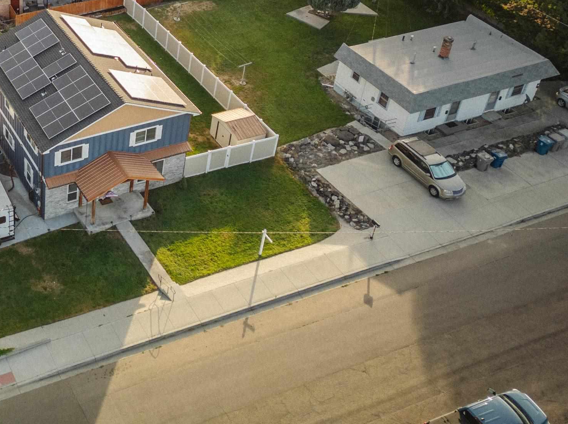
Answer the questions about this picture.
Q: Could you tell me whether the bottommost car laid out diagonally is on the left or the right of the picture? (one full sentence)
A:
It is on the right.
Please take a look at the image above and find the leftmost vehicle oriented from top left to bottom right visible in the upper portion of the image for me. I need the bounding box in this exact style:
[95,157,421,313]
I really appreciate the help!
[390,131,471,200]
